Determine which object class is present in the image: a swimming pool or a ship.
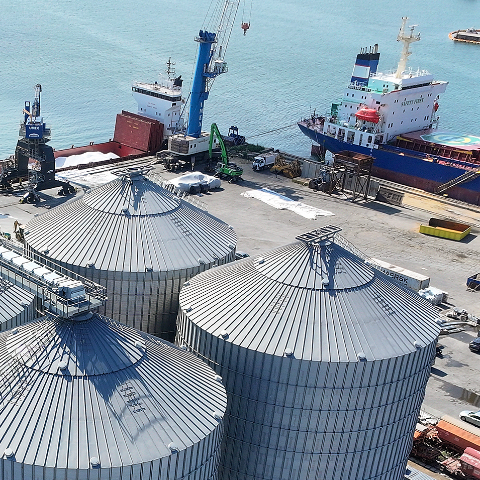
ship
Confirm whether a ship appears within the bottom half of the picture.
No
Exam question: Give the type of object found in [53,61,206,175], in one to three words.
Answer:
ship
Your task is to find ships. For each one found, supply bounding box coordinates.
[53,61,206,175]
[296,3,480,199]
